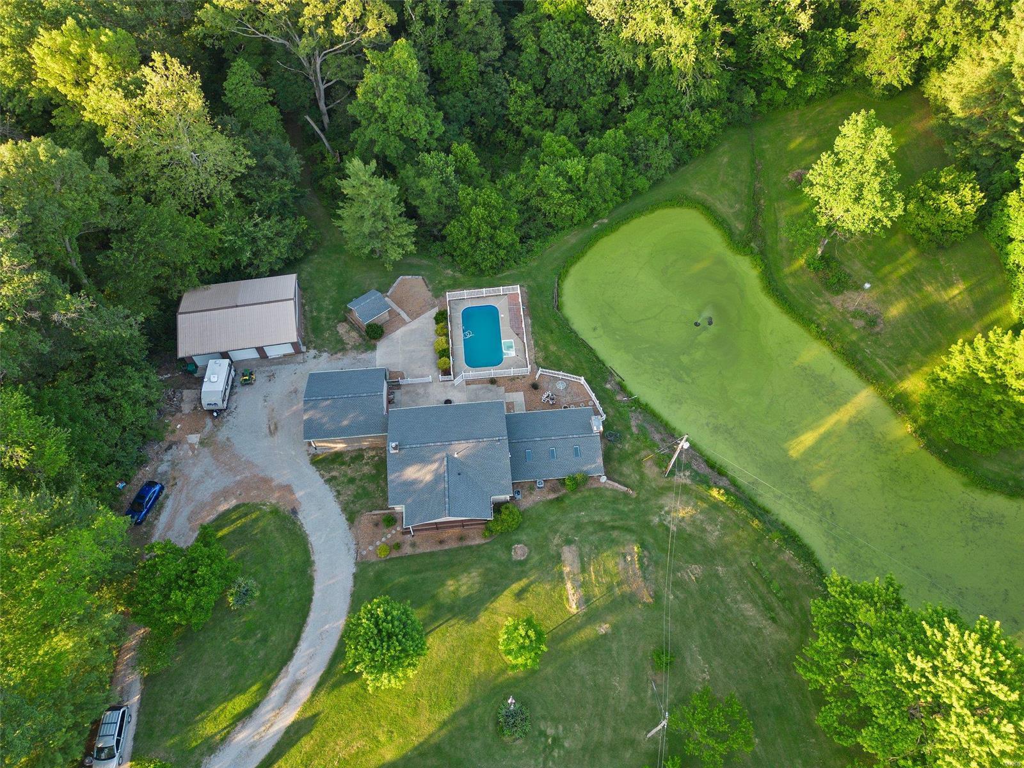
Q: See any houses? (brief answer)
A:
Yes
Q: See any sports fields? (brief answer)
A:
No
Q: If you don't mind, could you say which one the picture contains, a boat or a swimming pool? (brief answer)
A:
swimming pool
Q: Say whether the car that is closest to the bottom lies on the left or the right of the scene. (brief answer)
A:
left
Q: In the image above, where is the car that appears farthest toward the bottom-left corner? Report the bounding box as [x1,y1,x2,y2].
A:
[92,710,138,768]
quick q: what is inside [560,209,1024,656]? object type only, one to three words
pond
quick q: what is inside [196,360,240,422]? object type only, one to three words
trailer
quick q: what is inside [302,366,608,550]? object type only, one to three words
house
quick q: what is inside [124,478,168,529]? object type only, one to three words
car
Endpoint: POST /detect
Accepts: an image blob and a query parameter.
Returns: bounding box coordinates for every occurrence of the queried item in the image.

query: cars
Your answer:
[92,710,138,768]
[124,478,168,529]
